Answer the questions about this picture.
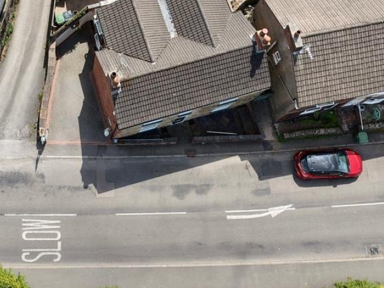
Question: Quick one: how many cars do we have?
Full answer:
I count 1 car.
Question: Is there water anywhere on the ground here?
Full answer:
No, water can't be seen anywhere here.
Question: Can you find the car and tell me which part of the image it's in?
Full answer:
You can find the car in the right area of the picture.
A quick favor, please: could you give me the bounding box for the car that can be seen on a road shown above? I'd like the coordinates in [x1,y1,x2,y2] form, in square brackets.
[294,146,362,184]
